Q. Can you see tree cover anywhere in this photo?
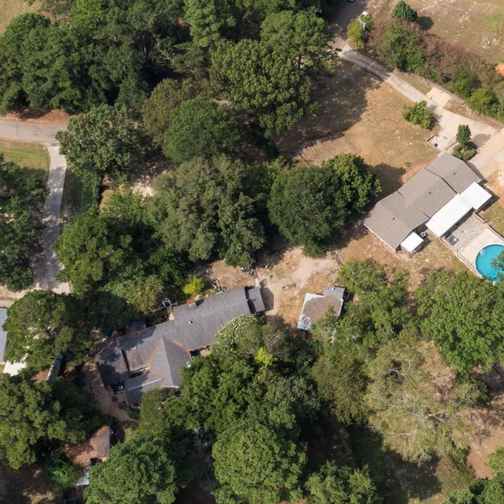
Yes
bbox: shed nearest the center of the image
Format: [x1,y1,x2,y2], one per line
[247,286,267,319]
